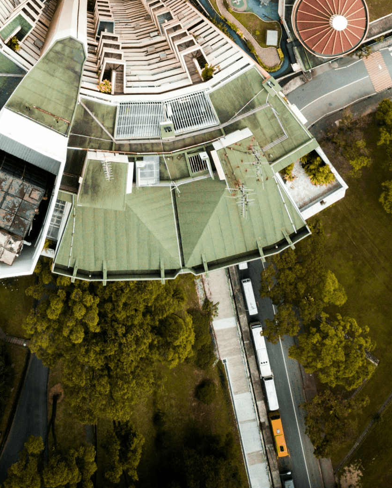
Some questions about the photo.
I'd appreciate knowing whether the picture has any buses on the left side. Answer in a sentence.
No, I see no bus on the left side.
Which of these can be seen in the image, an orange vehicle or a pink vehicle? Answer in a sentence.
There is an orange vehicle in the scene.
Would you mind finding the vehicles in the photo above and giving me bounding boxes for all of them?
[280,470,295,488]
[261,375,280,412]
[267,410,290,457]
[239,274,259,315]
[248,319,273,377]
[237,262,250,274]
